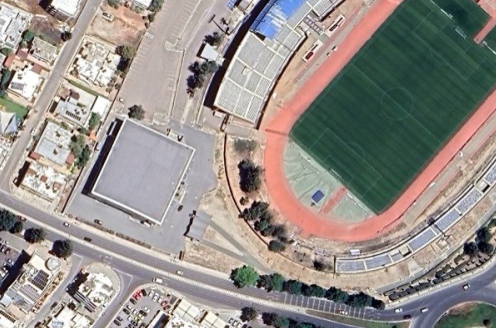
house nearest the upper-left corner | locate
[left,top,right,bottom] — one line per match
[0,3,37,58]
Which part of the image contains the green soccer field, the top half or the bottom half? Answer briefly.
top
